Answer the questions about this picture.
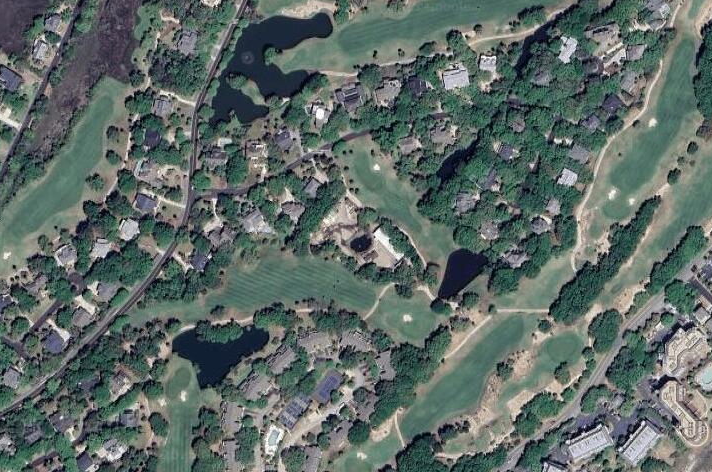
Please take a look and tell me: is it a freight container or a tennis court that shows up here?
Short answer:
tennis court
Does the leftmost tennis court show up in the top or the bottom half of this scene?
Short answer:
bottom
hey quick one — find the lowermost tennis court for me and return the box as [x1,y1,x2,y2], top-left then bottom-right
[276,392,312,427]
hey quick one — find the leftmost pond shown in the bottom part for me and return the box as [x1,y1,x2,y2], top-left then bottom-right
[172,326,270,388]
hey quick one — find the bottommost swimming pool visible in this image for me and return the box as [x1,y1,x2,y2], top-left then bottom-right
[265,424,284,457]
